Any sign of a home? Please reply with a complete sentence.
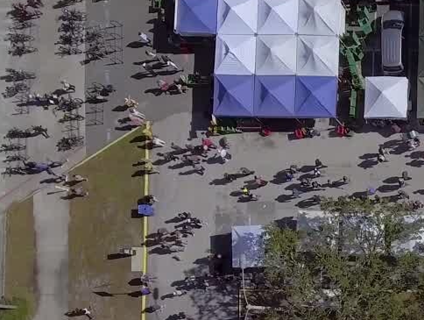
No, there's no home here.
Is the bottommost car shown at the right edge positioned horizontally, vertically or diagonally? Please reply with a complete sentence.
In this picture, the bottommost car shown at the right edge lies vertically.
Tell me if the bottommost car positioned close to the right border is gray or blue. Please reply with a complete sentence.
From above, the bottommost car positioned close to the right border appears gray.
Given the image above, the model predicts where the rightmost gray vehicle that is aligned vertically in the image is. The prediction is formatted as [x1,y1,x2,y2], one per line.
[379,12,409,76]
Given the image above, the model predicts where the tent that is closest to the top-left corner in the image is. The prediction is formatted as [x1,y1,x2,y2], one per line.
[179,0,218,45]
